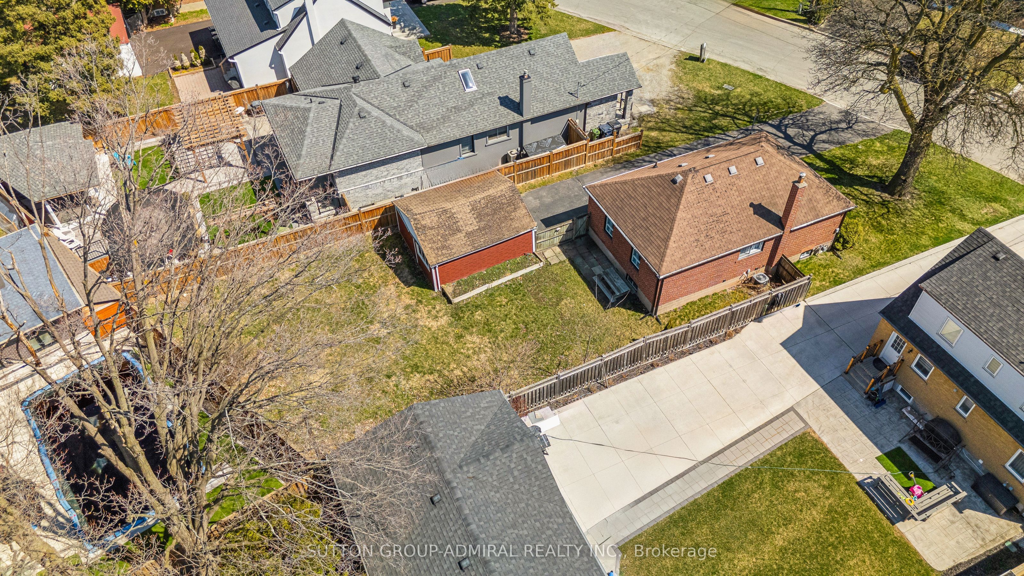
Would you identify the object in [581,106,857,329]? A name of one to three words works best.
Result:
house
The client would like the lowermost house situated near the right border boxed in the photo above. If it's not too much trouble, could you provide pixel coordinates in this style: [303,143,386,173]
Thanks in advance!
[842,227,1024,508]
